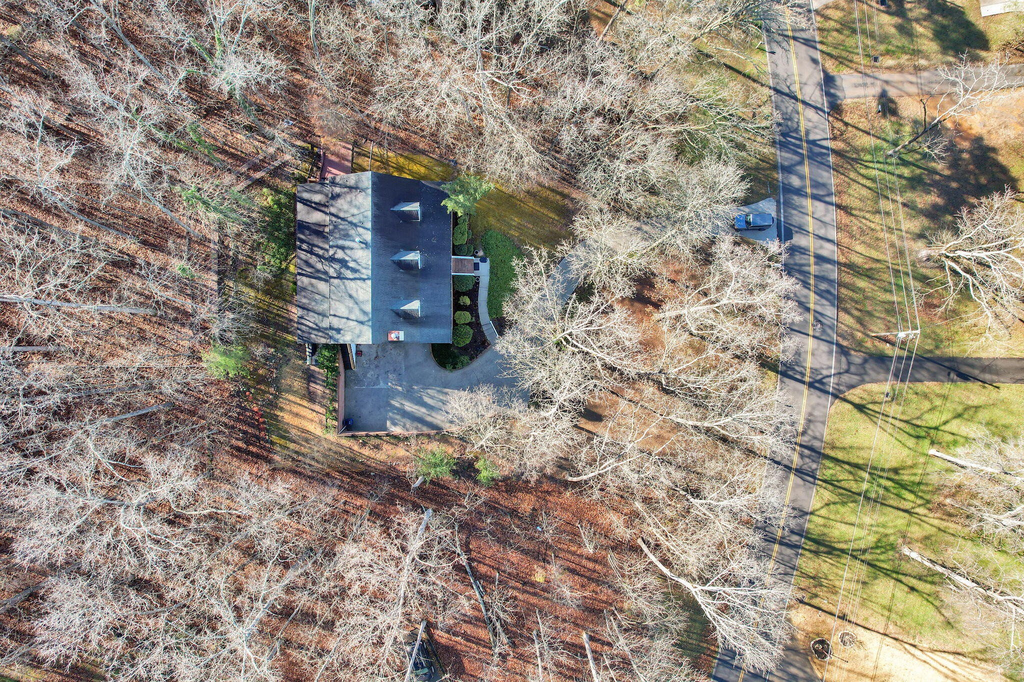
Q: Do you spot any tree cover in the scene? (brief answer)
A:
Yes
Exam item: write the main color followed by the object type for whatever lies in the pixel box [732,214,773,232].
blue car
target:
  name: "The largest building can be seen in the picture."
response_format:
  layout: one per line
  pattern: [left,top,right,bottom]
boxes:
[296,171,454,344]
